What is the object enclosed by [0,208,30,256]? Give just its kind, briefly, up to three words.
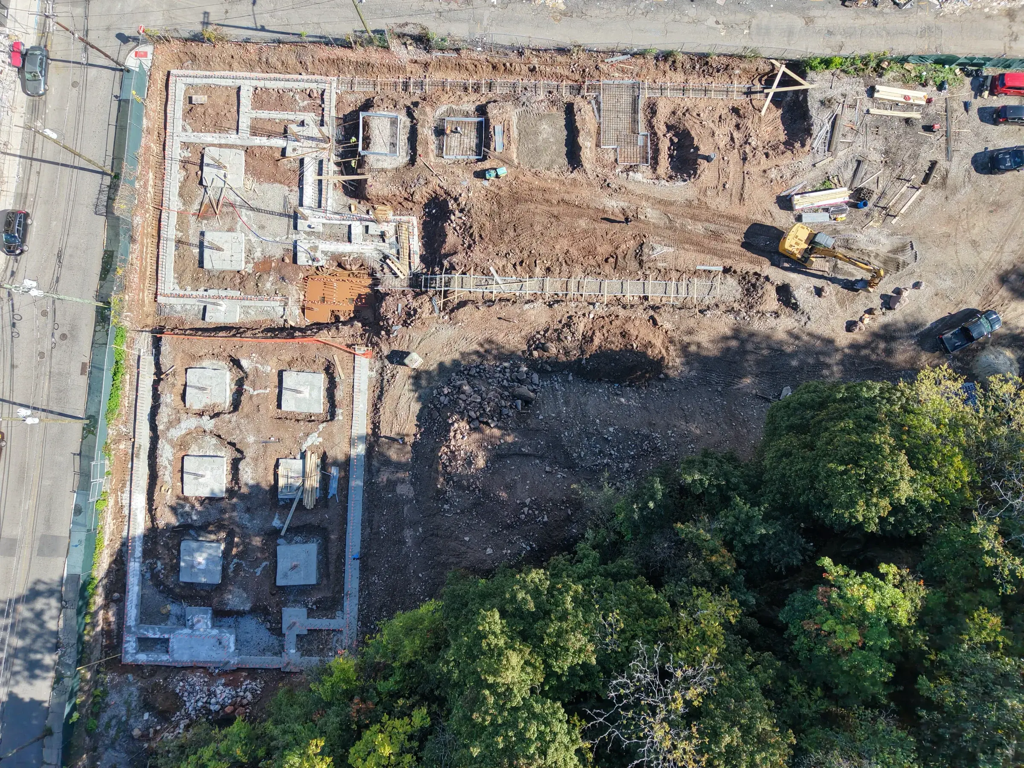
car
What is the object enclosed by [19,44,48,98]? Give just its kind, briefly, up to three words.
car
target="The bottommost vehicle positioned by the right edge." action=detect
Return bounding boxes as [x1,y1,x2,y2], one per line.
[934,309,1002,355]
